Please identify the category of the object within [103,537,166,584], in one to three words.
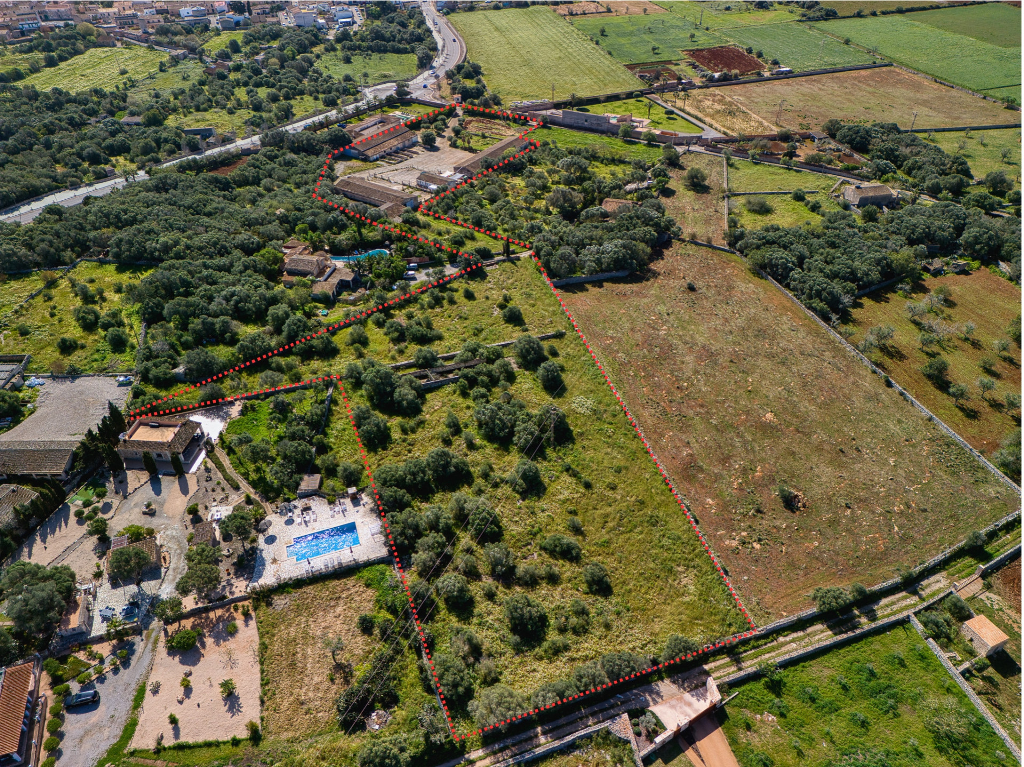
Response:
shed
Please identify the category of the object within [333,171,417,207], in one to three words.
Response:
building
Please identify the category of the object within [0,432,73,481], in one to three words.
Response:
barn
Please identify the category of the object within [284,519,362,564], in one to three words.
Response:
swimming pool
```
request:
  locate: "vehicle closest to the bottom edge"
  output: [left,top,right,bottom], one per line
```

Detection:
[60,686,100,709]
